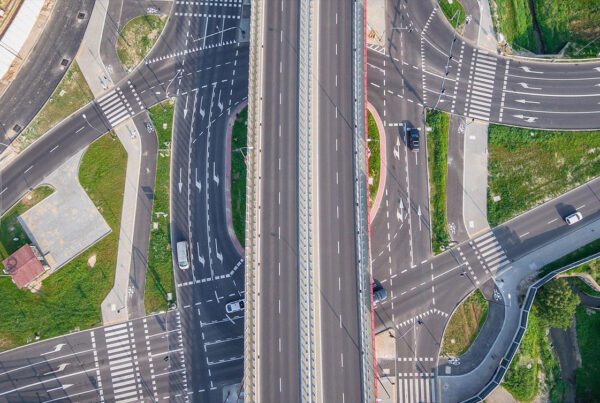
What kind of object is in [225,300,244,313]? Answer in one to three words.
vehicle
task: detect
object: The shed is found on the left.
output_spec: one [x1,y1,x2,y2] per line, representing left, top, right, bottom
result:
[1,244,49,289]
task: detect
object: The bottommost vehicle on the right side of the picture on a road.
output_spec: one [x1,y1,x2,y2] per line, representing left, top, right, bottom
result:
[371,289,389,305]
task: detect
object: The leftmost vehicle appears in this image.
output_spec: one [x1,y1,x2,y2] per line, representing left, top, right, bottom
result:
[178,240,191,270]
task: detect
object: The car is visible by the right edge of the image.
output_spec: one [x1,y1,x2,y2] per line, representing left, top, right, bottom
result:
[561,211,582,226]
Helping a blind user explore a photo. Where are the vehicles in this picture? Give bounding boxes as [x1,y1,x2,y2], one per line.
[561,211,582,226]
[225,300,244,313]
[408,129,420,152]
[178,240,191,270]
[371,289,389,305]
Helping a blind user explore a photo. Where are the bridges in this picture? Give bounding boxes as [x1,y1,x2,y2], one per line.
[243,0,376,403]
